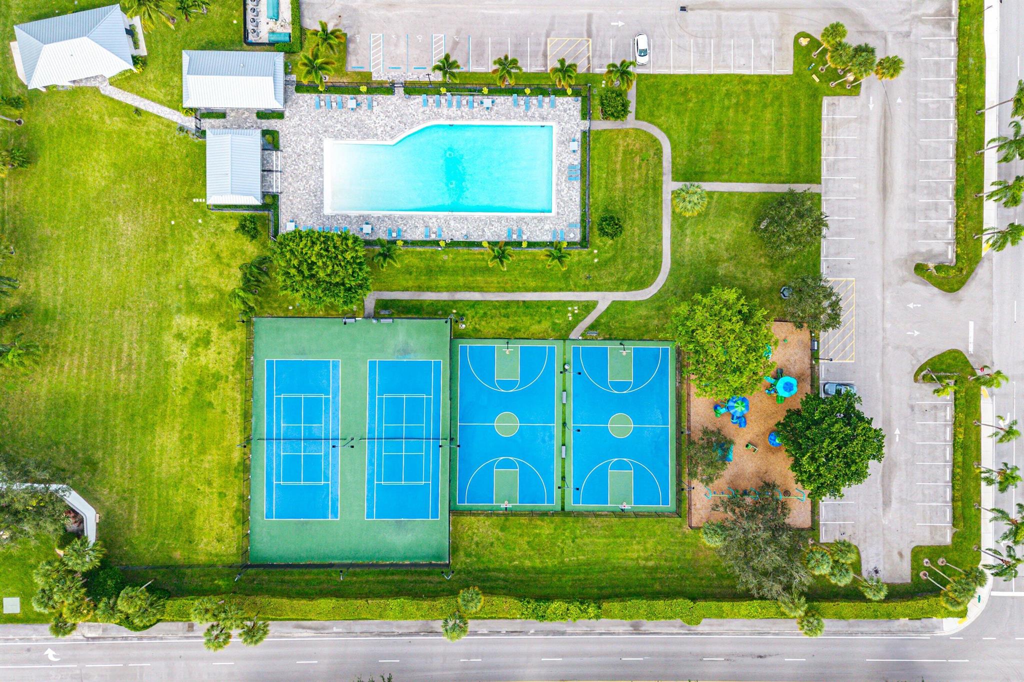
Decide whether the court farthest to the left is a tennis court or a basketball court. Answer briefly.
tennis court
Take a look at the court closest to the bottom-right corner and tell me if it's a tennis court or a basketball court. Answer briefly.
basketball court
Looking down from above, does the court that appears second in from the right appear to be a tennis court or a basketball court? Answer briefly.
basketball court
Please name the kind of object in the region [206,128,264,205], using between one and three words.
building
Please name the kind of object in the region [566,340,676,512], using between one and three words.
basketball court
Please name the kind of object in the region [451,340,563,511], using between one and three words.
basketball court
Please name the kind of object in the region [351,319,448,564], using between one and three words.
tennis court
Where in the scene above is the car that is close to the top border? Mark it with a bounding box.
[634,33,650,65]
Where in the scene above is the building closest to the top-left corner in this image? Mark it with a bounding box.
[13,4,140,91]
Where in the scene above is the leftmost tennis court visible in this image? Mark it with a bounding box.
[250,318,353,563]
